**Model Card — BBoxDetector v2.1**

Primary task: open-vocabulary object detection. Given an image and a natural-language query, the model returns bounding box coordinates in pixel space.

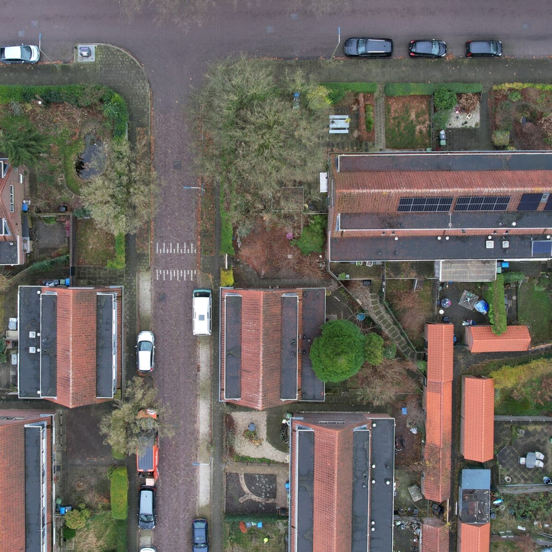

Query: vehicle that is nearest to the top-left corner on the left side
[1,42,42,64]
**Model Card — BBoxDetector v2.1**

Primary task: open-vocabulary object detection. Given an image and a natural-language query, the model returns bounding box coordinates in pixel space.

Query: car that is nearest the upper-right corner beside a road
[463,38,502,58]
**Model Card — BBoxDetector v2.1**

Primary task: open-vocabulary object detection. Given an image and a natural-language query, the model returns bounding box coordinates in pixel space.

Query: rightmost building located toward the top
[327,150,552,260]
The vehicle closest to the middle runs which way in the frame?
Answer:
from top to bottom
